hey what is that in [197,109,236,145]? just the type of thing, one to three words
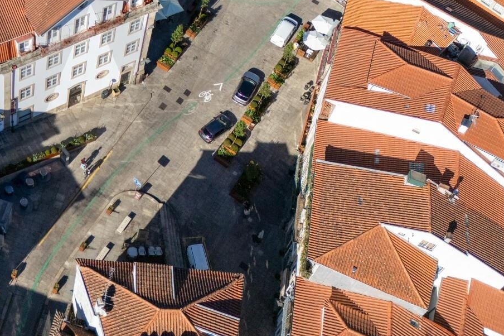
car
